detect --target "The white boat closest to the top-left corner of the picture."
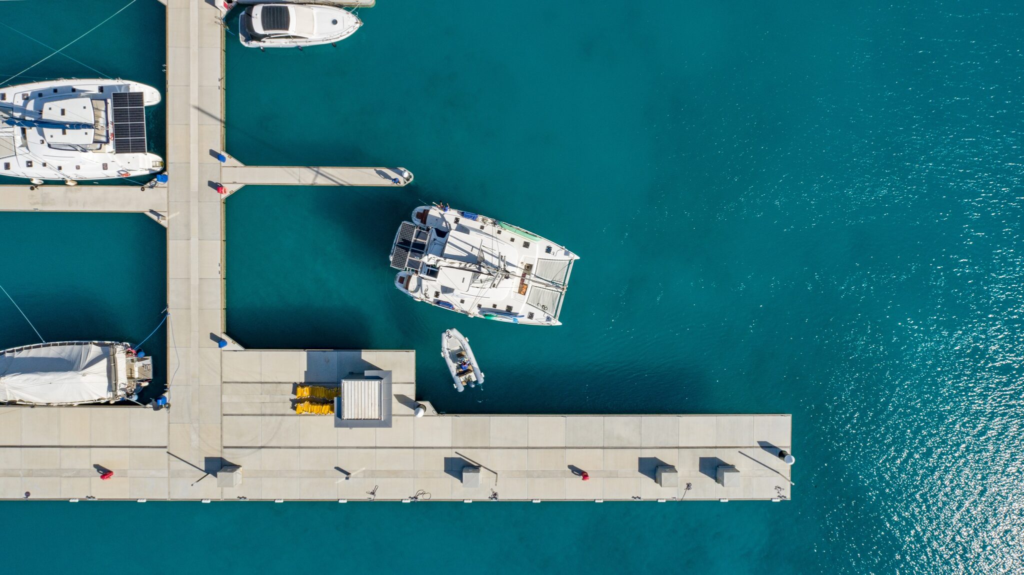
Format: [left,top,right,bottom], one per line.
[0,74,167,182]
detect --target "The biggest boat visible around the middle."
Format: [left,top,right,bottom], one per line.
[391,206,580,326]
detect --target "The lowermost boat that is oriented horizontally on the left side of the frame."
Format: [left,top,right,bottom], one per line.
[0,340,153,404]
